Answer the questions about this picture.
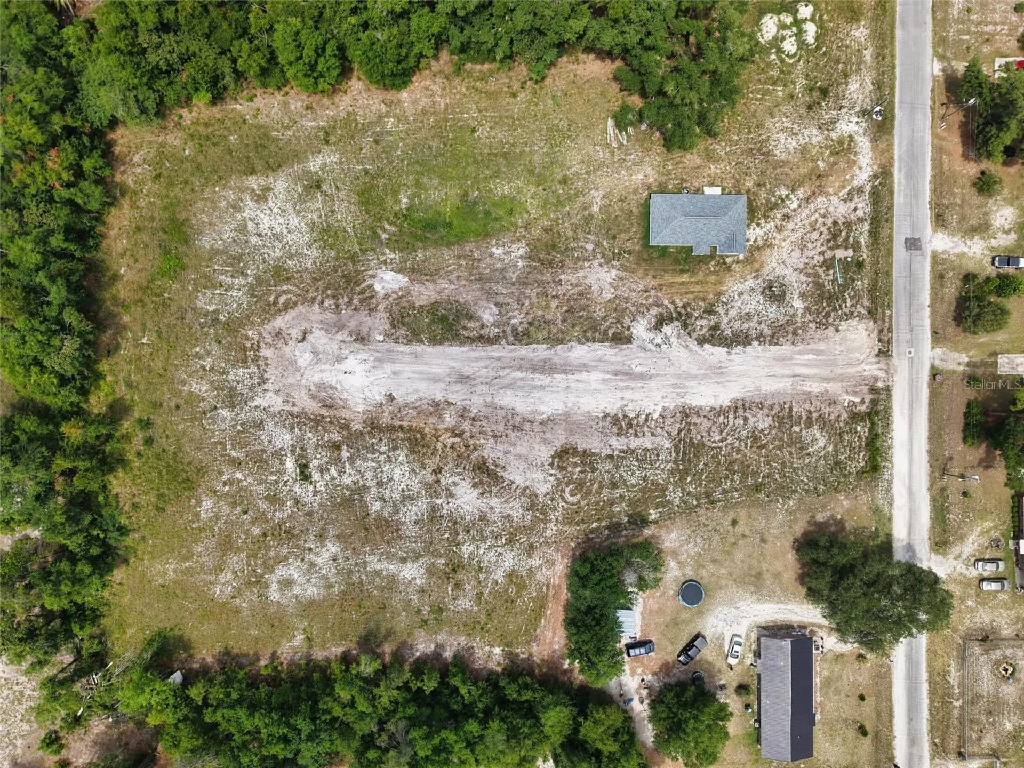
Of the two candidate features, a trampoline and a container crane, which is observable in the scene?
trampoline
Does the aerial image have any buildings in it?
Yes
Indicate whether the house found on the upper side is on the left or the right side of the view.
right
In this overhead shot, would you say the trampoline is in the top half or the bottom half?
bottom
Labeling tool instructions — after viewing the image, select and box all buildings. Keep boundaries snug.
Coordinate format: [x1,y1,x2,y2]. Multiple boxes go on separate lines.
[617,606,637,638]
[1013,497,1024,590]
[649,194,747,256]
[757,632,815,763]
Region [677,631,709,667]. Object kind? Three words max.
truck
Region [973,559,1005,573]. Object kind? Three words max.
car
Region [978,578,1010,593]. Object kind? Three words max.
car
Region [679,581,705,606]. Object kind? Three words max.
trampoline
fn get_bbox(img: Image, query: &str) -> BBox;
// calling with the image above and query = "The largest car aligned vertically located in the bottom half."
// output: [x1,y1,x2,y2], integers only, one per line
[726,633,743,665]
